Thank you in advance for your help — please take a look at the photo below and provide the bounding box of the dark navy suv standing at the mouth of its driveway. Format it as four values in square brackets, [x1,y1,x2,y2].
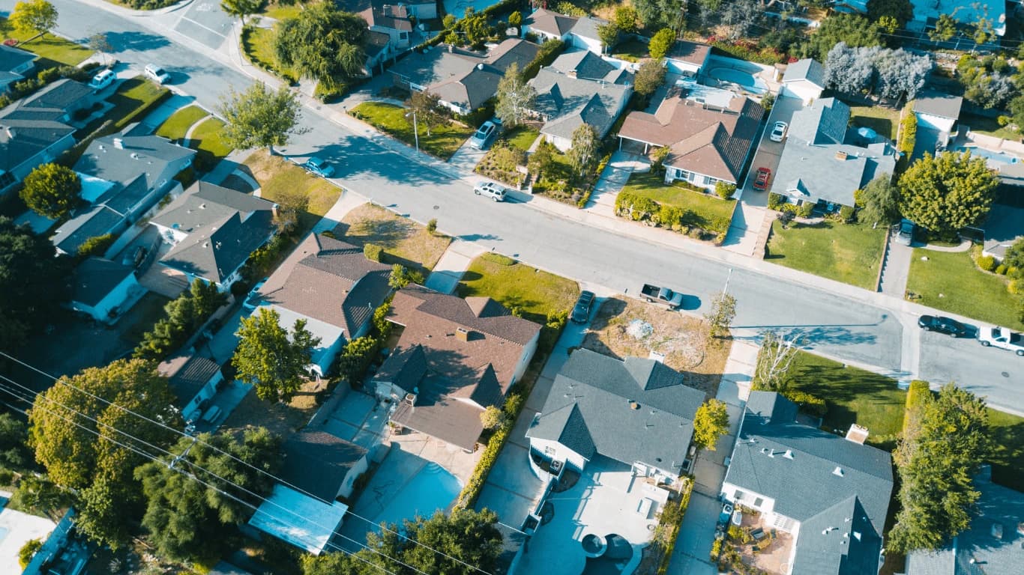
[567,288,598,326]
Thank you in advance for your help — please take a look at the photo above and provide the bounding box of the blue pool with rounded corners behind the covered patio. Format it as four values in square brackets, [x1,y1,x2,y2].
[353,456,466,573]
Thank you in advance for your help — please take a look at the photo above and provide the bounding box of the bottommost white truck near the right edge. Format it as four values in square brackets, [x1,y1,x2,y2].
[979,329,1024,356]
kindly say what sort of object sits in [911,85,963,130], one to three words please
building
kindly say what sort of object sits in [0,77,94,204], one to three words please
house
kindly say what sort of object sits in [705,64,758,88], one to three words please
swimming pool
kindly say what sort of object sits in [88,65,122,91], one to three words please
car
